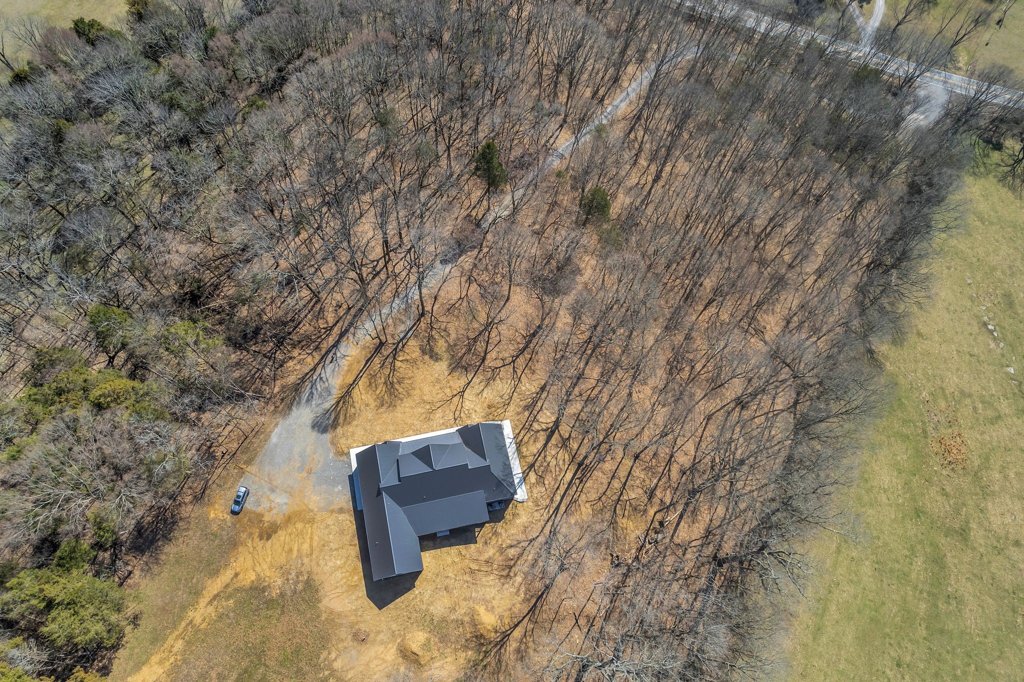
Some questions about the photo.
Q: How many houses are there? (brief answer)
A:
1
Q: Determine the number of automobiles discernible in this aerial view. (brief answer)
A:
one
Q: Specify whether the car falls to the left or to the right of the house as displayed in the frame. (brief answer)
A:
to its left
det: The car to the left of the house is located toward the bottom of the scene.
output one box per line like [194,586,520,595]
[230,486,251,517]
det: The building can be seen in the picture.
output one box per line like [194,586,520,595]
[355,423,518,581]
